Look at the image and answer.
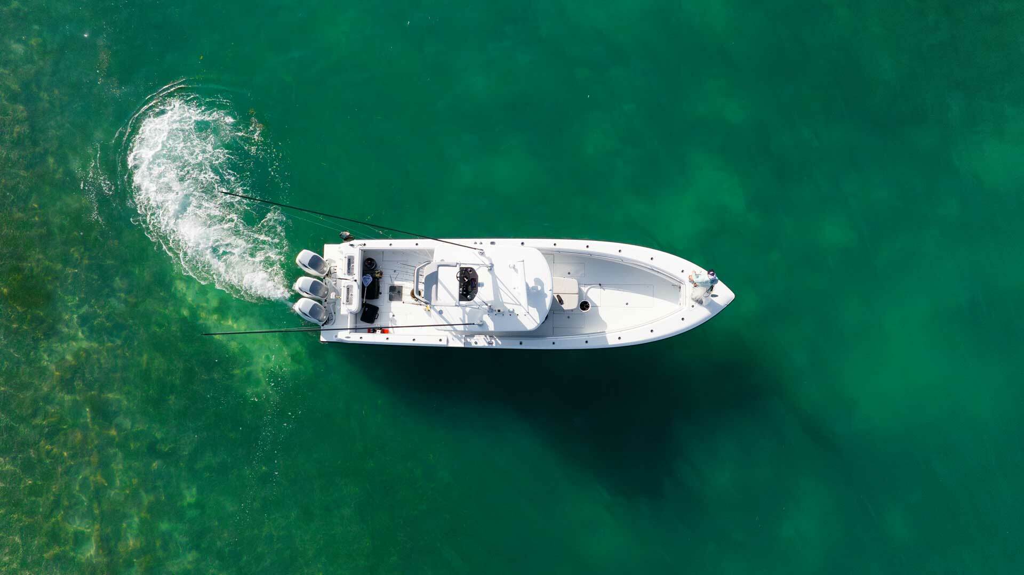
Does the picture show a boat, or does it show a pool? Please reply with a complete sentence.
I can see a boat in this picture.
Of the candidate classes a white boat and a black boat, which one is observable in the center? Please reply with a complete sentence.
Visible in the center is a white boat.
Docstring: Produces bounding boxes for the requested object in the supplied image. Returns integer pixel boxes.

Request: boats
[202,191,735,349]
